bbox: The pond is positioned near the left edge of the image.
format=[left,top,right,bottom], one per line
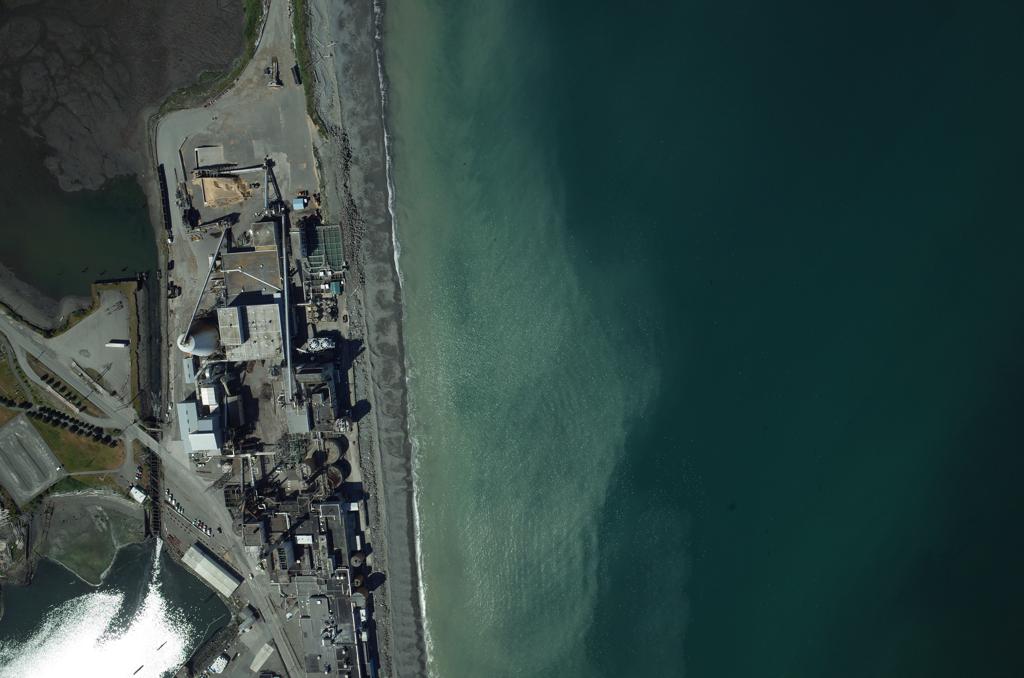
[0,105,232,678]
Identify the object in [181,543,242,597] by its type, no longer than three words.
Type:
building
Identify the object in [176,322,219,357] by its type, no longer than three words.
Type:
silo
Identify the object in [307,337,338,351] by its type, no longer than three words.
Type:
cooling tower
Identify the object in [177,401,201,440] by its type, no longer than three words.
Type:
building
